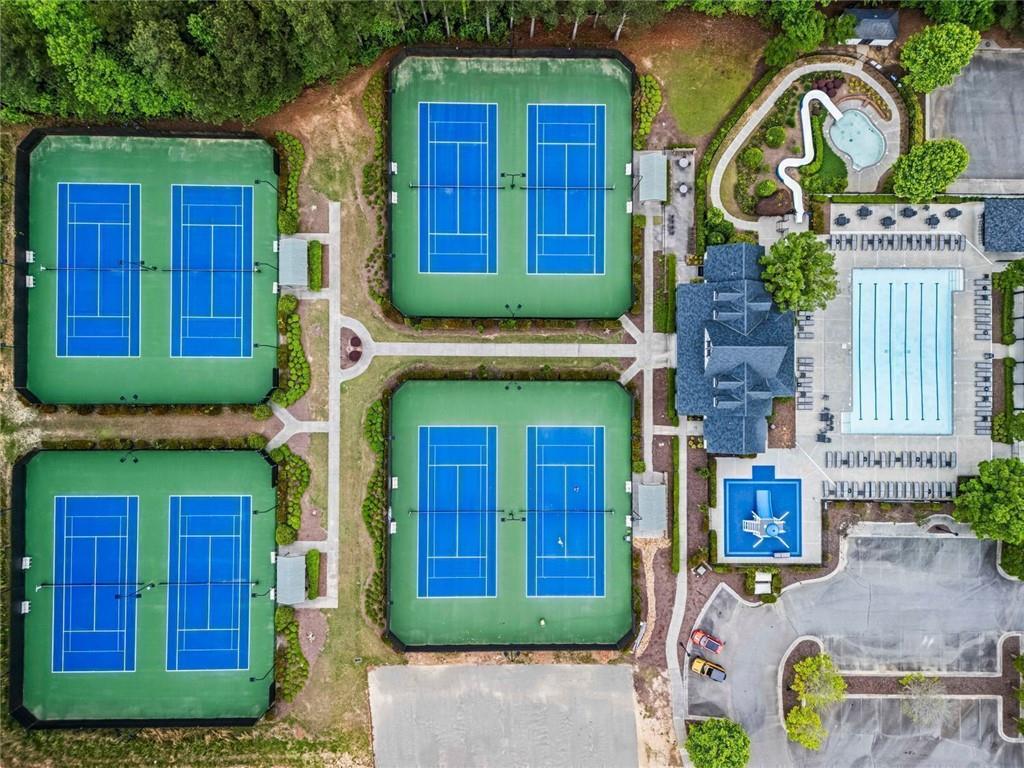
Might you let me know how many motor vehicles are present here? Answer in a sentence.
The photo contains 2 motor vehicles.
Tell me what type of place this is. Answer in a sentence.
It's a sports ground.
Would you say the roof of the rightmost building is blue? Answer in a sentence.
Yes, blue is the color of the roof of the rightmost building.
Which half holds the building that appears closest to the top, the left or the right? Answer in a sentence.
The building that appears closest to the top is on the right side of the image.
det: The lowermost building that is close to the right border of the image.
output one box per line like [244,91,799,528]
[973,197,1024,251]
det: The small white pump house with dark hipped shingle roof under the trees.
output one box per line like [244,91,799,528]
[832,0,899,47]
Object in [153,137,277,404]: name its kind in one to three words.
tennis court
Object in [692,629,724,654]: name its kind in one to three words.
car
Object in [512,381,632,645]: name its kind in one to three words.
tennis court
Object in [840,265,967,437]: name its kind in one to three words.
swimming pool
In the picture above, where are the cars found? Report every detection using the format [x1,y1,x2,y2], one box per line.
[692,657,727,685]
[692,629,724,654]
